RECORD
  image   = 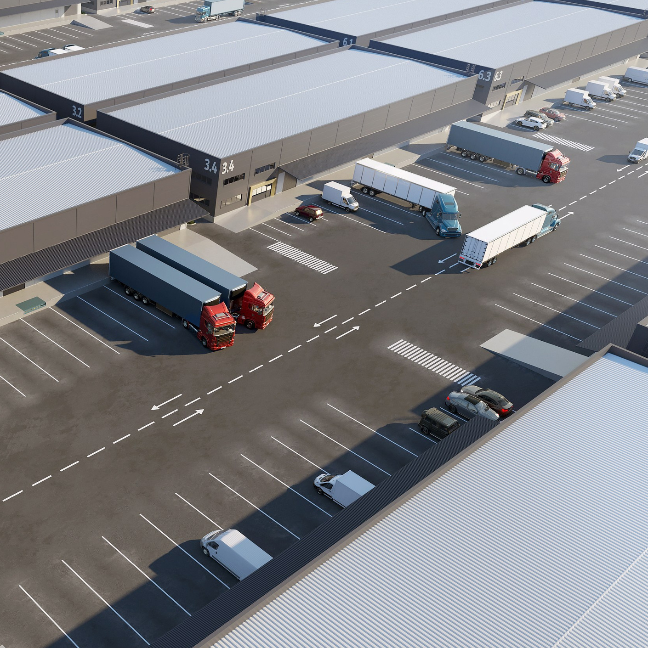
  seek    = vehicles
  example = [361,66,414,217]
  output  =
[317,471,377,509]
[109,245,233,350]
[445,393,502,424]
[625,67,648,85]
[136,236,272,327]
[626,137,648,163]
[448,121,573,184]
[200,530,272,580]
[586,79,619,102]
[140,5,157,13]
[538,106,568,122]
[599,76,630,98]
[457,385,516,417]
[352,159,472,236]
[198,0,249,22]
[416,411,456,441]
[564,87,600,110]
[516,118,549,131]
[293,205,325,222]
[461,202,562,269]
[321,180,362,213]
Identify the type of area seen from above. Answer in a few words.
industrial area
